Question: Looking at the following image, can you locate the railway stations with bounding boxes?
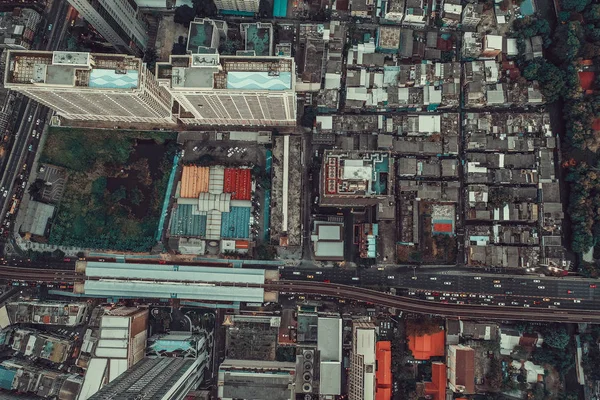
[73,260,279,303]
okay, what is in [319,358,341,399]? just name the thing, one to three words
building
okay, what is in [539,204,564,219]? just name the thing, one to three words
house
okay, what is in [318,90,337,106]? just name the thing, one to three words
house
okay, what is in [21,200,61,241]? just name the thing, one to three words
building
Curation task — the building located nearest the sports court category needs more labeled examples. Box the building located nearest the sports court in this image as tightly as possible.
[429,203,455,218]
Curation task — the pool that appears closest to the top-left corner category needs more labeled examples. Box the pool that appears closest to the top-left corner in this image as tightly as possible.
[89,69,138,88]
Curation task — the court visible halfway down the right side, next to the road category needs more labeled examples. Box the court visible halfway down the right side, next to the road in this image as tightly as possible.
[432,218,456,237]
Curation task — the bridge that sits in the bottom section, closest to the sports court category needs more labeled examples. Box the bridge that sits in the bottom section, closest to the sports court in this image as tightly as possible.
[0,265,600,325]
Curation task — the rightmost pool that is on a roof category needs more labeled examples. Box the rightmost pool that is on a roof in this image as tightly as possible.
[226,71,291,90]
